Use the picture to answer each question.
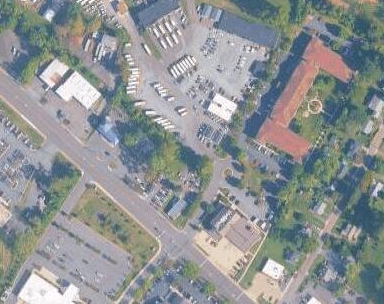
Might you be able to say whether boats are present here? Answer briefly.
No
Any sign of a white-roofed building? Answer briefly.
Yes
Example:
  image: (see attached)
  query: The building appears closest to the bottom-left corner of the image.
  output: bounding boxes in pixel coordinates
[14,272,80,304]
